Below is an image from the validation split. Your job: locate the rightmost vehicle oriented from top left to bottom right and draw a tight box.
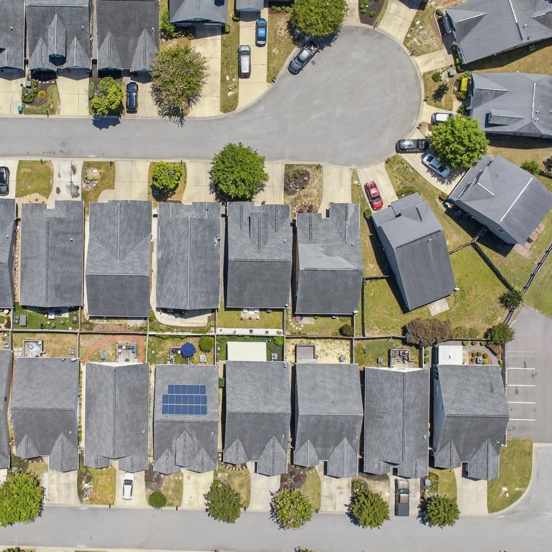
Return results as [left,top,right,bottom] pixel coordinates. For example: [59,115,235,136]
[422,153,448,177]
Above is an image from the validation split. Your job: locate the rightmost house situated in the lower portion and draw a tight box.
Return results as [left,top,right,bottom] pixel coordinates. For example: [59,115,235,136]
[432,364,512,485]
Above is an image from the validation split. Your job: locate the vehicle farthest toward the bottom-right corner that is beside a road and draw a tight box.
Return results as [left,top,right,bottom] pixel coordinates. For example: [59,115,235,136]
[396,480,409,516]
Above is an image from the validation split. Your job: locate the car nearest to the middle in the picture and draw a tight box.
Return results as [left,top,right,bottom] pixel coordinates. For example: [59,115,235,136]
[364,182,382,209]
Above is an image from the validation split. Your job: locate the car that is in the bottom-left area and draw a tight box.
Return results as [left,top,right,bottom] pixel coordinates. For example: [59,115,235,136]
[122,473,134,498]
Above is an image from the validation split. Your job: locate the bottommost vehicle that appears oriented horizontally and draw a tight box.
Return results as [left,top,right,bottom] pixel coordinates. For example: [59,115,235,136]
[398,139,425,152]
